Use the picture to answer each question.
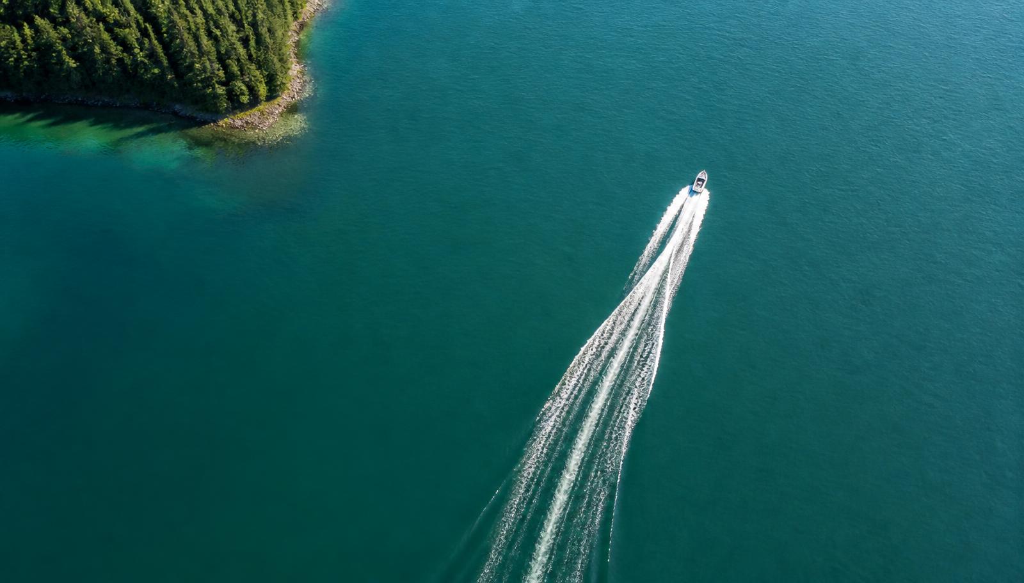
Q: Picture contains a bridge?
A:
No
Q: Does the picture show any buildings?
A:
No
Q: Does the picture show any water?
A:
Yes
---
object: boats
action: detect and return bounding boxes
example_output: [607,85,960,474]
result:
[692,170,707,193]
